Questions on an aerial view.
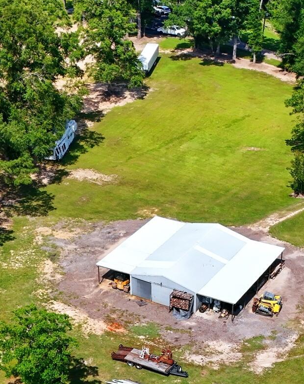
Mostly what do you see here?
grass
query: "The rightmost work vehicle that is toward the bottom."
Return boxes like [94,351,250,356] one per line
[251,288,284,312]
